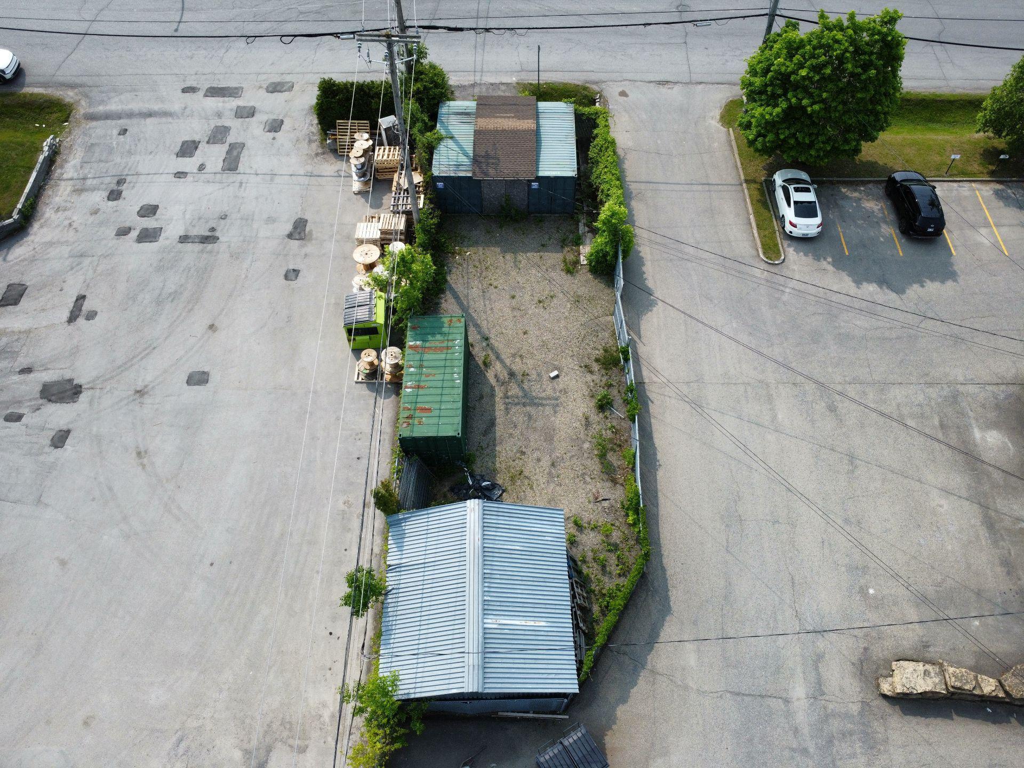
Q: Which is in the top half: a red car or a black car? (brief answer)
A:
black car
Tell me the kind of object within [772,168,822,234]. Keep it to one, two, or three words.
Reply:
car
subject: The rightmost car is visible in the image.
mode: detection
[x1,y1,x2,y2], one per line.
[886,167,948,236]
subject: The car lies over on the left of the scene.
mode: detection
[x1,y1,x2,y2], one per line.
[0,43,26,79]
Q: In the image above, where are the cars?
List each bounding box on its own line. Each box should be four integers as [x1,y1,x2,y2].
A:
[886,167,948,236]
[0,43,26,79]
[772,168,822,234]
